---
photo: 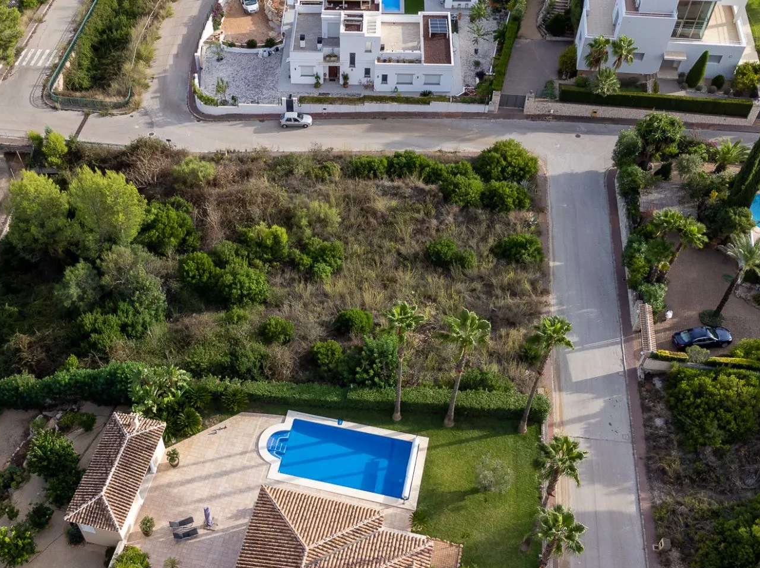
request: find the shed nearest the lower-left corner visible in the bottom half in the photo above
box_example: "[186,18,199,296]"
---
[63,411,166,539]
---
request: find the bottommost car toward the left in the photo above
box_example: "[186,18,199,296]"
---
[278,111,312,128]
